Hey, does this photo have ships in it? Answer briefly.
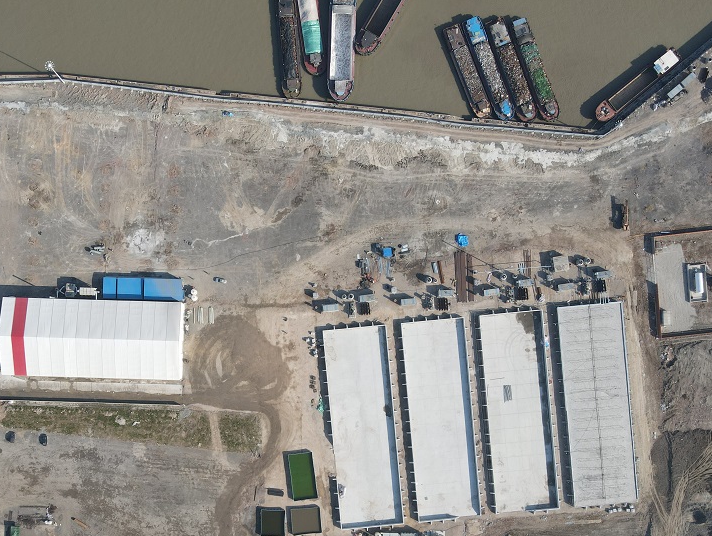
Yes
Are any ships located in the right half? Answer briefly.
Yes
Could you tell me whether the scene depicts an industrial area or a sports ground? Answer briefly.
industrial area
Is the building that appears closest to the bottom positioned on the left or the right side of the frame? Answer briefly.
left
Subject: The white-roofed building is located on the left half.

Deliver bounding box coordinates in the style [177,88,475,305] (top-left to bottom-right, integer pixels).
[0,297,186,380]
